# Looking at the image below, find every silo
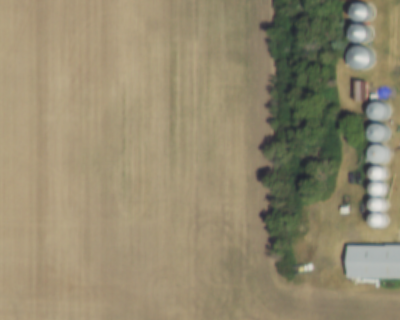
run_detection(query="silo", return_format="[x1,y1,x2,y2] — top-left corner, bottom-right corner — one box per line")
[366,100,392,122]
[346,44,376,72]
[367,212,389,228]
[366,143,392,164]
[367,166,389,182]
[366,122,392,144]
[367,197,389,213]
[349,2,376,22]
[347,24,374,44]
[378,85,394,99]
[367,182,389,198]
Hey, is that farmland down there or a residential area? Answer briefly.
farmland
